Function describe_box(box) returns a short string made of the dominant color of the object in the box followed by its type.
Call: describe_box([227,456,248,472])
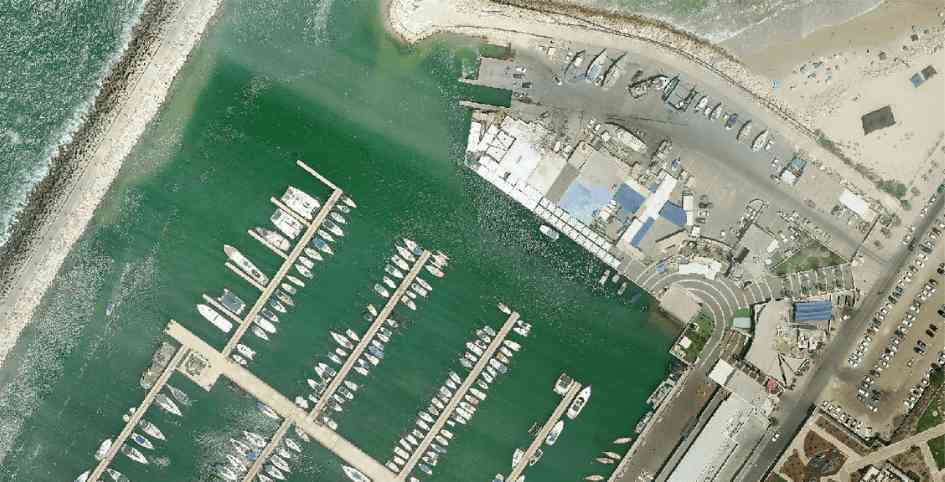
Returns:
white boat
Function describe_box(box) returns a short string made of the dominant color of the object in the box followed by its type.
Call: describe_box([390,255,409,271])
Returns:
white boat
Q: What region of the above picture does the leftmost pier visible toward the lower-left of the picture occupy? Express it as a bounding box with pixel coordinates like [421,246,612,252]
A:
[88,349,186,482]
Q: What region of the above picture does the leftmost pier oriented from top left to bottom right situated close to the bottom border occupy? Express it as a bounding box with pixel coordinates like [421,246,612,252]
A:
[165,319,403,482]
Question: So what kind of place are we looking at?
port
